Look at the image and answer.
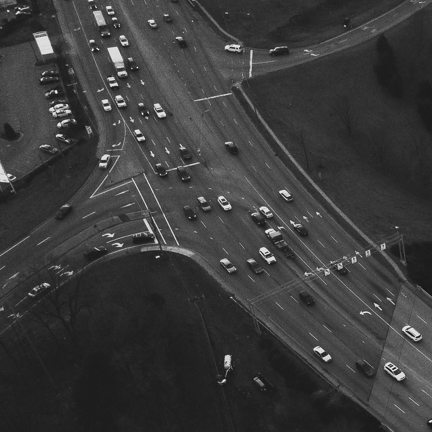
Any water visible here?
No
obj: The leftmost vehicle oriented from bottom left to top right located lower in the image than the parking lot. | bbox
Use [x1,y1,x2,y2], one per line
[26,284,51,300]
